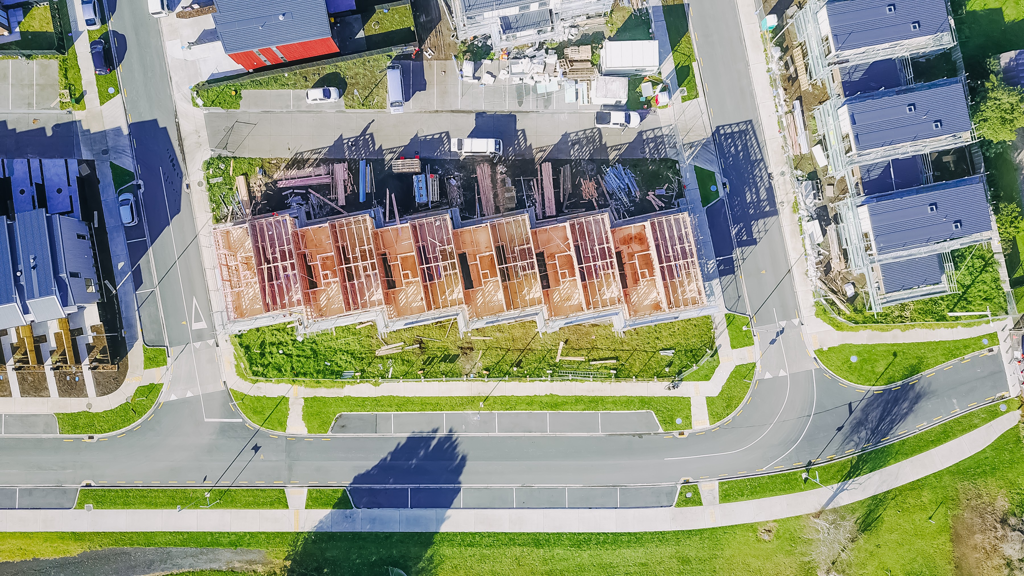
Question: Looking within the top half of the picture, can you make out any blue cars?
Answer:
Yes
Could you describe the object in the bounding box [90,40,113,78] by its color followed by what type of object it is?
blue car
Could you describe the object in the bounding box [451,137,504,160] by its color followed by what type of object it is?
white vehicle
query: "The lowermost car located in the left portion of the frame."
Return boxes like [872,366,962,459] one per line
[119,193,140,228]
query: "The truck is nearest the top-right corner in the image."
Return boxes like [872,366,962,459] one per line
[595,109,640,135]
